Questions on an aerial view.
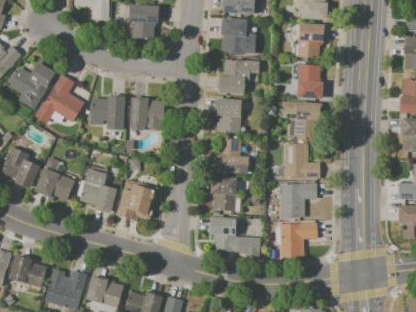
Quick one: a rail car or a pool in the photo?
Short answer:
pool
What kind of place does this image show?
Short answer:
residential area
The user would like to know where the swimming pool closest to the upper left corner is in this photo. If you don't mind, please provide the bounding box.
[22,123,54,151]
